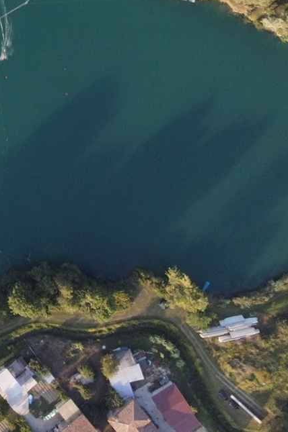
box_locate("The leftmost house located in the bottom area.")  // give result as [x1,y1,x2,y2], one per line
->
[0,355,38,417]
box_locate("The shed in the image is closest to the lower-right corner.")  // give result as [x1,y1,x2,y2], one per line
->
[149,380,204,432]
